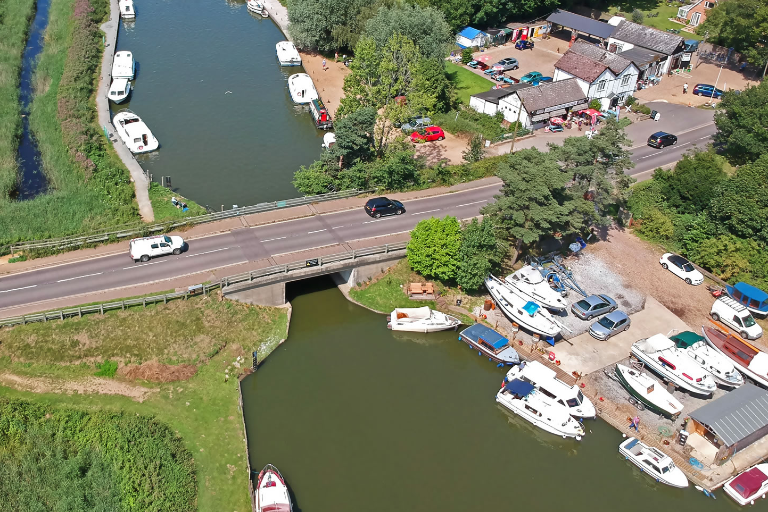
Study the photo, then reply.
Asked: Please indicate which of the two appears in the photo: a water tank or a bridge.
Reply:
bridge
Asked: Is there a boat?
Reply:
Yes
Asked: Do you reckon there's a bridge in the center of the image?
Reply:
Yes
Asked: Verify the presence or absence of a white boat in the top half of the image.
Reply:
Yes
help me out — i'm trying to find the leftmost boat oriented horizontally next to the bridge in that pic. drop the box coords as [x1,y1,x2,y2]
[385,304,464,340]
